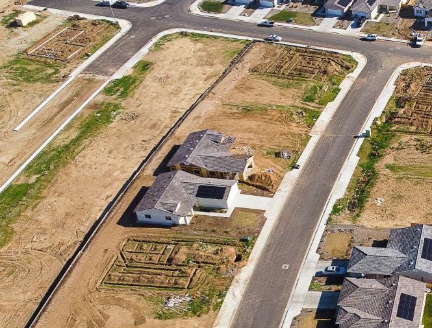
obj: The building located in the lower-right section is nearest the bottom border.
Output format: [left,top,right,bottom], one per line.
[337,275,427,328]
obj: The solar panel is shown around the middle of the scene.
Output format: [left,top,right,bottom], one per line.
[196,185,225,199]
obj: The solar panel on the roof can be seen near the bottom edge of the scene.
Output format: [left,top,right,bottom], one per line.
[397,293,417,320]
